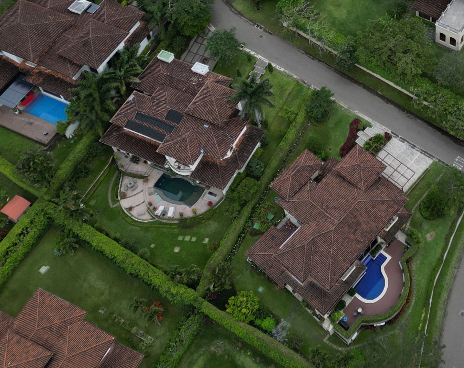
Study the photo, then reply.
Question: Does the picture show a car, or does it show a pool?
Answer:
pool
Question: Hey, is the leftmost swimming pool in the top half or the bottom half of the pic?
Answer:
top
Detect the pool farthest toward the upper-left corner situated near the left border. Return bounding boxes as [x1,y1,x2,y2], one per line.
[20,92,62,128]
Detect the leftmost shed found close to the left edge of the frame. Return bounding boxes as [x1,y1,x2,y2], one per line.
[0,195,31,223]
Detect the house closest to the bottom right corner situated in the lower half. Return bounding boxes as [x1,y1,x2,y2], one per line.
[245,144,413,319]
